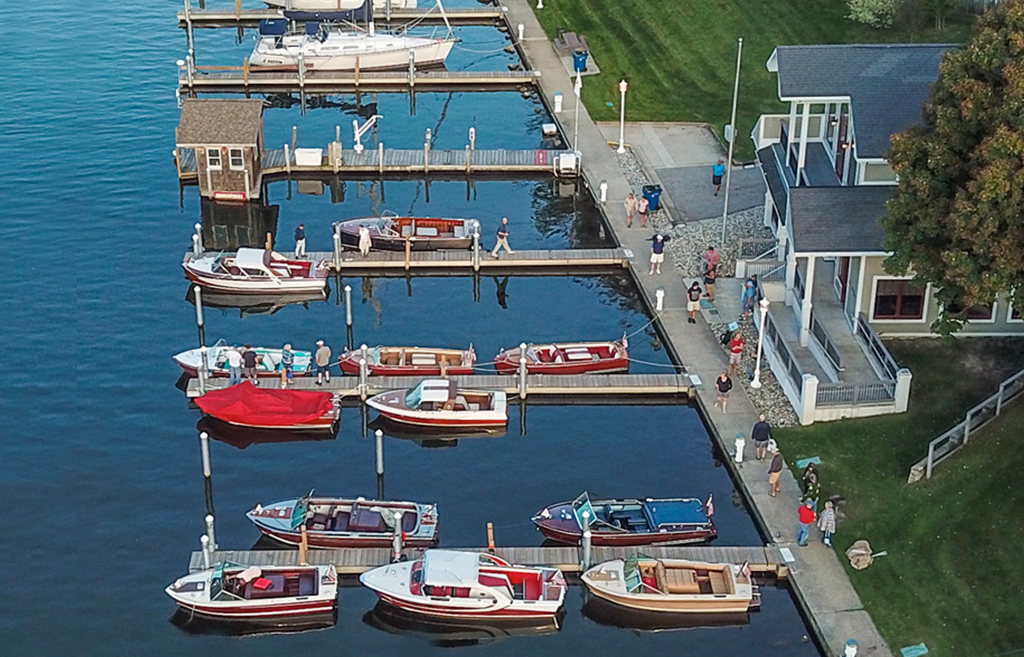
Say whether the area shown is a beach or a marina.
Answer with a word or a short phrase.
marina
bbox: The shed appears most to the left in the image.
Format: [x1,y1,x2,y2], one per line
[173,99,269,198]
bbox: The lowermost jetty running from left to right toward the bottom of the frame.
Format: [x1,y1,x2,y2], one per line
[186,546,779,579]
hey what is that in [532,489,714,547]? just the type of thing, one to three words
boat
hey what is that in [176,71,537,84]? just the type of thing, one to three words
pier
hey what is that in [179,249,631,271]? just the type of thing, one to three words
pier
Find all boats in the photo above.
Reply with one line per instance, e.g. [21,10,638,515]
[365,376,506,428]
[193,384,344,431]
[532,489,714,547]
[252,0,460,72]
[245,491,436,549]
[332,212,473,250]
[165,559,336,621]
[494,326,628,379]
[581,551,764,614]
[182,248,339,293]
[338,333,474,384]
[359,546,566,618]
